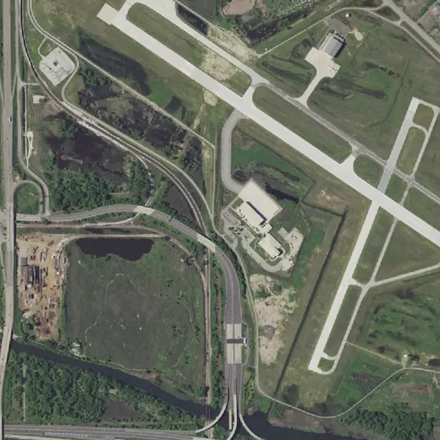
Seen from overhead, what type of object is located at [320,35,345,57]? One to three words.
hangar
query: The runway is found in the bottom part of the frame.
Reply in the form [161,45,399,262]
[308,200,378,372]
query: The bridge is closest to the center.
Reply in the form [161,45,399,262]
[95,203,223,256]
